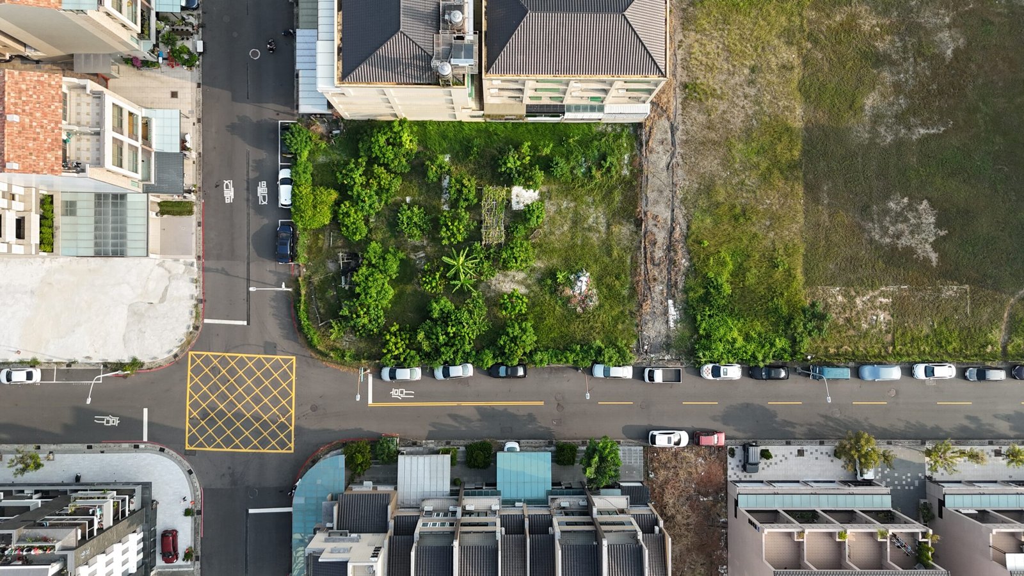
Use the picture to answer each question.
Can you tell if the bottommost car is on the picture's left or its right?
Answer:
left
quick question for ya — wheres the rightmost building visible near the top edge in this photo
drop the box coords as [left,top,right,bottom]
[481,0,668,121]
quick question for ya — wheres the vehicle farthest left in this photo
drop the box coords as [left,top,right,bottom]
[2,367,44,386]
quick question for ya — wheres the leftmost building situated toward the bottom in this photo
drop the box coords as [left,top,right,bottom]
[0,485,156,576]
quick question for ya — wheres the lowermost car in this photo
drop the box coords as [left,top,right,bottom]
[159,527,180,562]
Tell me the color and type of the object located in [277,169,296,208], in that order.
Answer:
white car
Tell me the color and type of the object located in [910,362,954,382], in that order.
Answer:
white car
